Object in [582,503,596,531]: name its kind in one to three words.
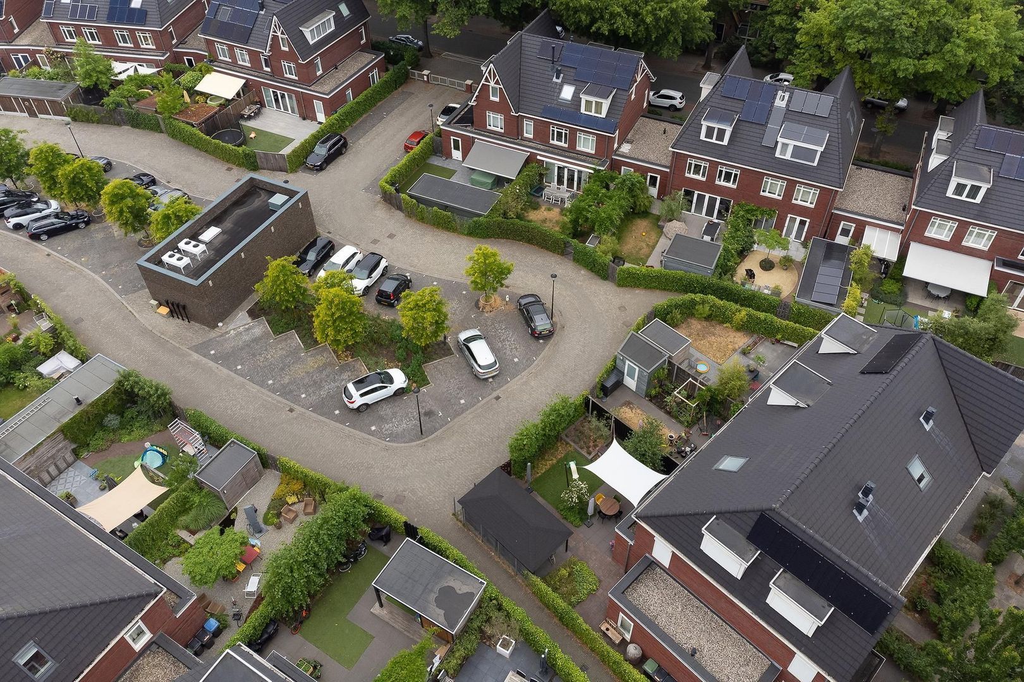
umbrella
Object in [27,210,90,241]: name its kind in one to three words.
car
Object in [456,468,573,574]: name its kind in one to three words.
building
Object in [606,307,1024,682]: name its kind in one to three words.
house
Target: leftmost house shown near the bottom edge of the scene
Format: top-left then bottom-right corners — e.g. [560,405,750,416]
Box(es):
[0,470,210,682]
